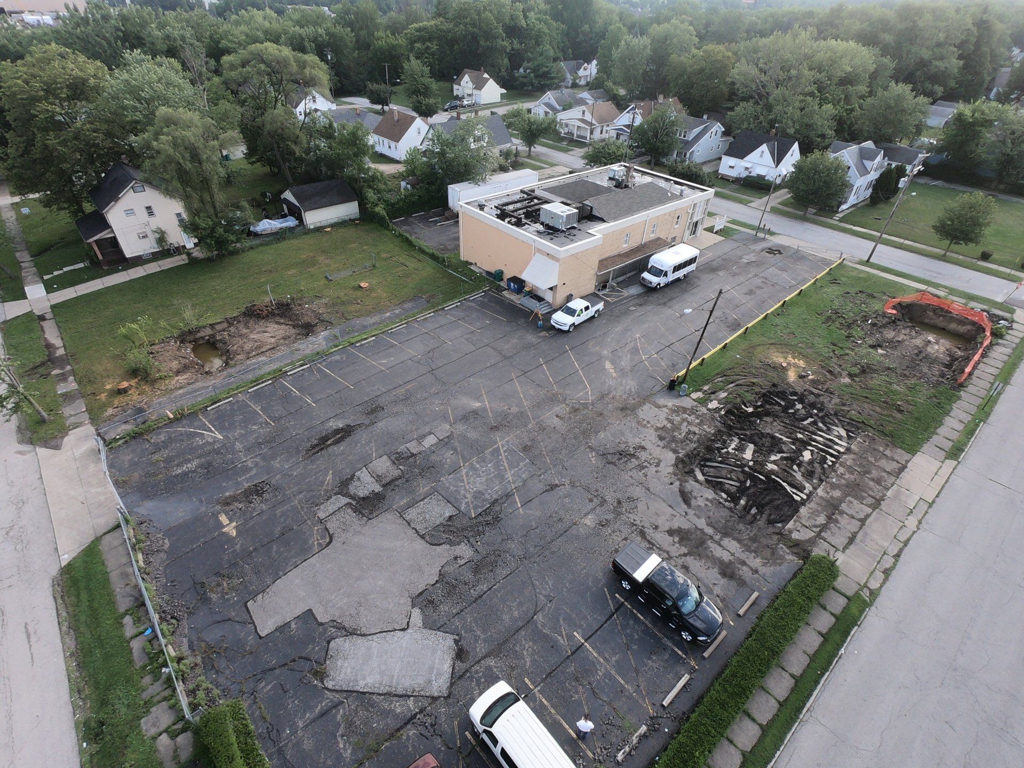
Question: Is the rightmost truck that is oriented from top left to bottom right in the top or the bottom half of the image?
bottom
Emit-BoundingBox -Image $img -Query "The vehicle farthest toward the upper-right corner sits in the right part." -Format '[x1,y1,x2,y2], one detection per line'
[634,239,699,287]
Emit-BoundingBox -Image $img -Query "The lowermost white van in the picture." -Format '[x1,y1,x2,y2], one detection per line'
[468,676,584,768]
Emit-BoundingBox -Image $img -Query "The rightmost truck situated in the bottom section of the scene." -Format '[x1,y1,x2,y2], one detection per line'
[608,534,732,652]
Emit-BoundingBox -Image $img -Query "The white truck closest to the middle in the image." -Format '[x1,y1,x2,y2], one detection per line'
[548,292,607,330]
